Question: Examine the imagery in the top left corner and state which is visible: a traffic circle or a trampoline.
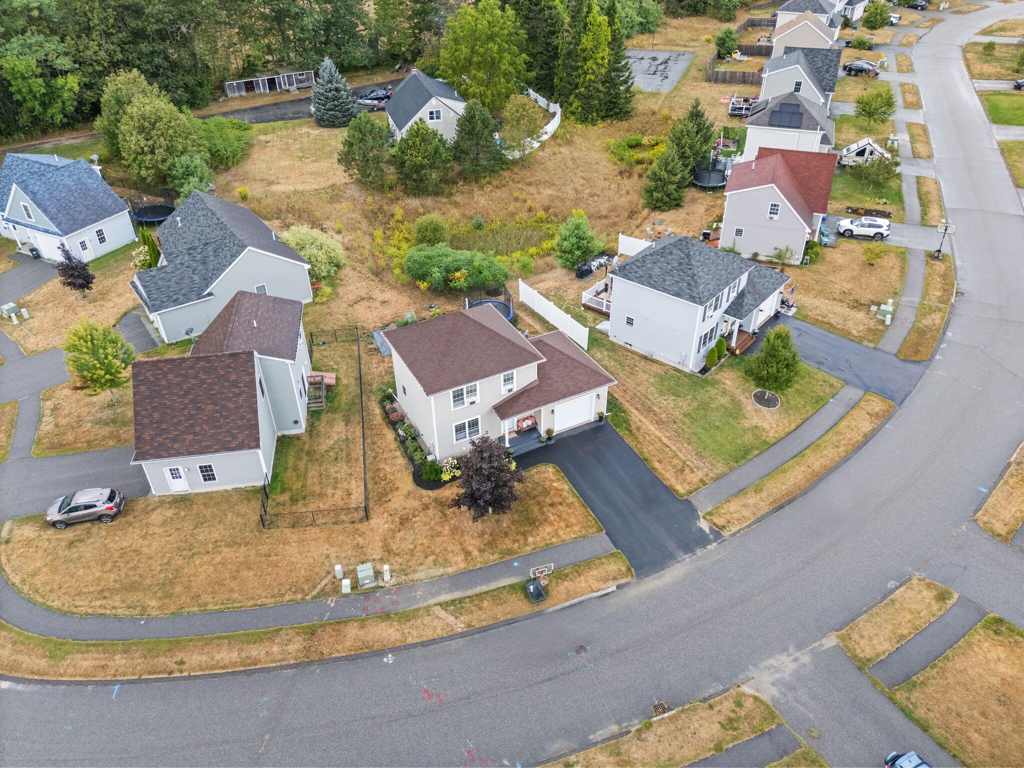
trampoline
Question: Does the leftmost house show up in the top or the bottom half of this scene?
top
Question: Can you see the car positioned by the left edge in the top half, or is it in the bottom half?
bottom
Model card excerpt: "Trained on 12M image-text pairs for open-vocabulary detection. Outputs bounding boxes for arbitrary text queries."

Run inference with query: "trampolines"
[126,188,174,228]
[463,284,512,322]
[692,159,729,194]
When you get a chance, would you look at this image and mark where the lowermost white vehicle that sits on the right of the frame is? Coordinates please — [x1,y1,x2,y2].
[837,216,891,240]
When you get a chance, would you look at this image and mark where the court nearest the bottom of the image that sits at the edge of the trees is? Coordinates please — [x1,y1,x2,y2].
[625,50,696,93]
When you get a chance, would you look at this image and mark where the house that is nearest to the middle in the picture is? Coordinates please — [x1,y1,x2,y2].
[381,303,618,462]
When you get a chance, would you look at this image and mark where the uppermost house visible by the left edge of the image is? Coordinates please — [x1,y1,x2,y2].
[0,152,136,263]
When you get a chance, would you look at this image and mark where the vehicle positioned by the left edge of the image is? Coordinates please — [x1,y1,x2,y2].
[42,482,125,527]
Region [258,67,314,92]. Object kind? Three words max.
shed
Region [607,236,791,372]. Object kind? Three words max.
house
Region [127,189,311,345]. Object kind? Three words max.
house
